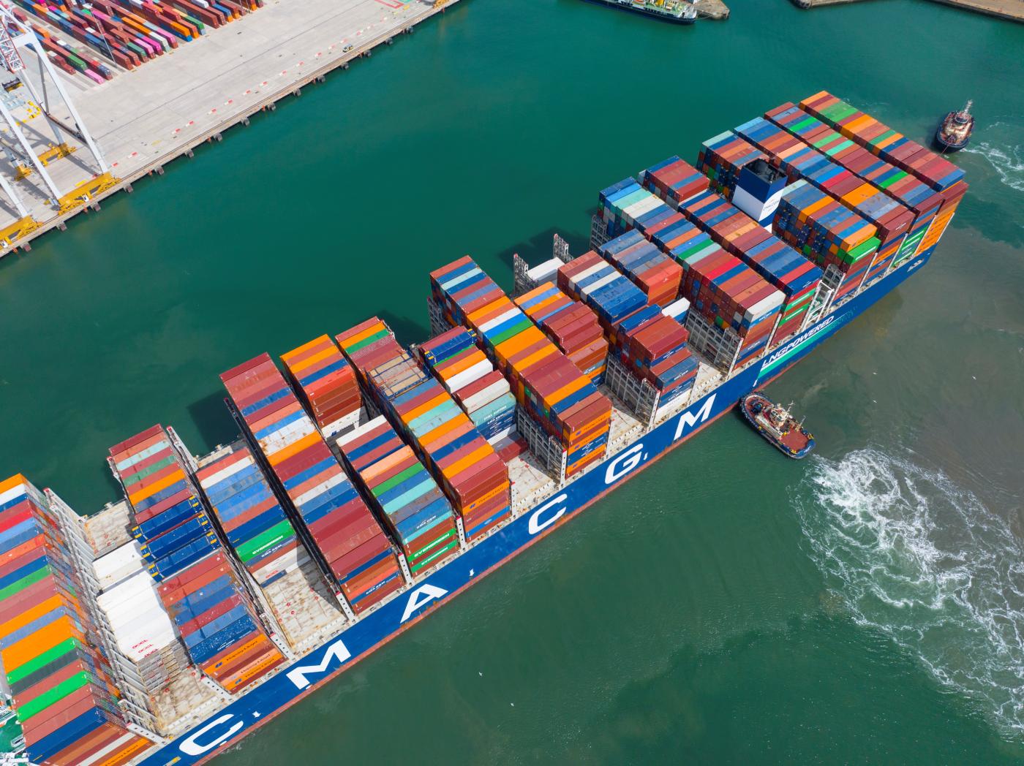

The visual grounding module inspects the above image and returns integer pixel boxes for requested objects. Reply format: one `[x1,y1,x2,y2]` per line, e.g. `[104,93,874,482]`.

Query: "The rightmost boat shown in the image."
[939,102,984,150]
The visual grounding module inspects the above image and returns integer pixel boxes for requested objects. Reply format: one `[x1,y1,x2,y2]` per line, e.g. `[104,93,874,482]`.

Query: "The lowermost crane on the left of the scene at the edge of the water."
[0,169,45,246]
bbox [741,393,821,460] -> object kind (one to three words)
boat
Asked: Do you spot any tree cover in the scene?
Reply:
No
